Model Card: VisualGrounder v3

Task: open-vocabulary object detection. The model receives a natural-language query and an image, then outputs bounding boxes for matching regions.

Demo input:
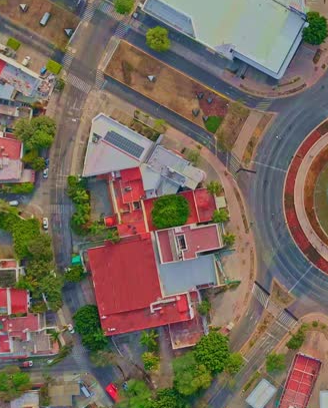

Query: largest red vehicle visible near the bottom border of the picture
[103,381,121,399]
